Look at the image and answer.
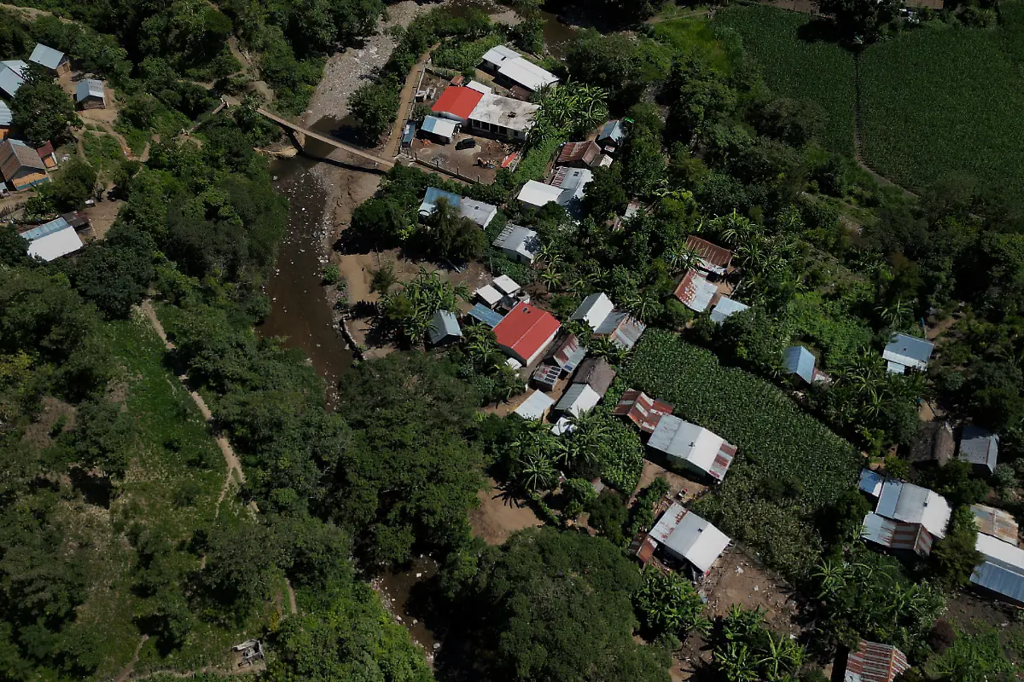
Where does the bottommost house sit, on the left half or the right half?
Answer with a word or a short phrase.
right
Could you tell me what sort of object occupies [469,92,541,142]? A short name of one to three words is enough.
building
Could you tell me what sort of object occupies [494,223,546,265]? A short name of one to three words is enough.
house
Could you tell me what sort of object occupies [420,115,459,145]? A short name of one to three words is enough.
shed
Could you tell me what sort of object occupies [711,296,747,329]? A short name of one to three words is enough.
shed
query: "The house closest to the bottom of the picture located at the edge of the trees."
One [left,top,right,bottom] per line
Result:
[845,640,908,682]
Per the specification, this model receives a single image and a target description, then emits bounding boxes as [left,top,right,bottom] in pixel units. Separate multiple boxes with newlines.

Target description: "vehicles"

[454,137,476,150]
